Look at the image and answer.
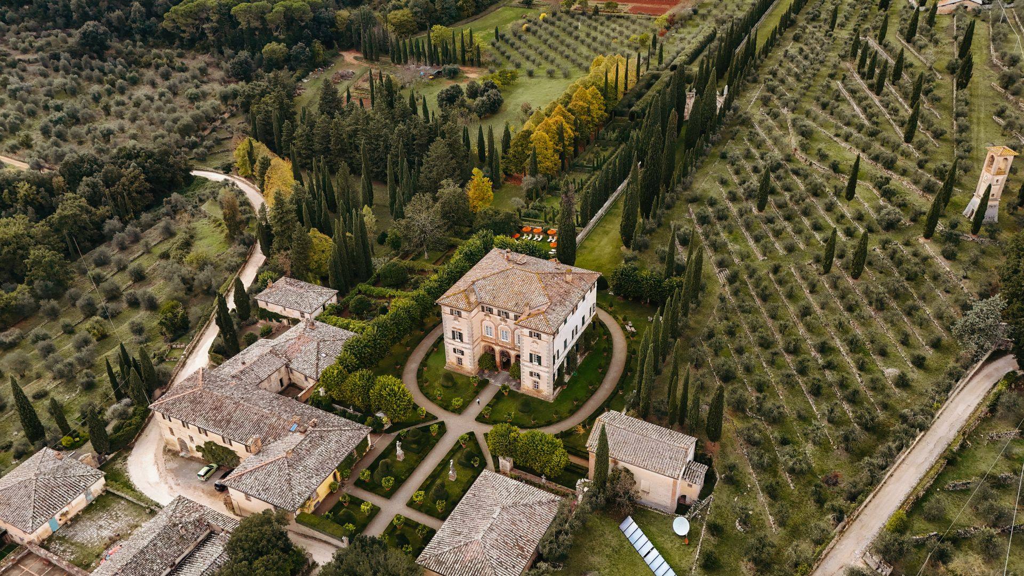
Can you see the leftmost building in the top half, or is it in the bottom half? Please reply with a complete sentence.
Seen from above, the leftmost building lies in the bottom half of the view.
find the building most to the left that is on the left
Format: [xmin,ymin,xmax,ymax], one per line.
[0,446,105,543]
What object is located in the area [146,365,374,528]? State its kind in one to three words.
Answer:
building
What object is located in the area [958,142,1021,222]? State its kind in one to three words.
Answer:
building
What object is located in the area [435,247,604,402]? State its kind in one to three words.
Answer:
house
